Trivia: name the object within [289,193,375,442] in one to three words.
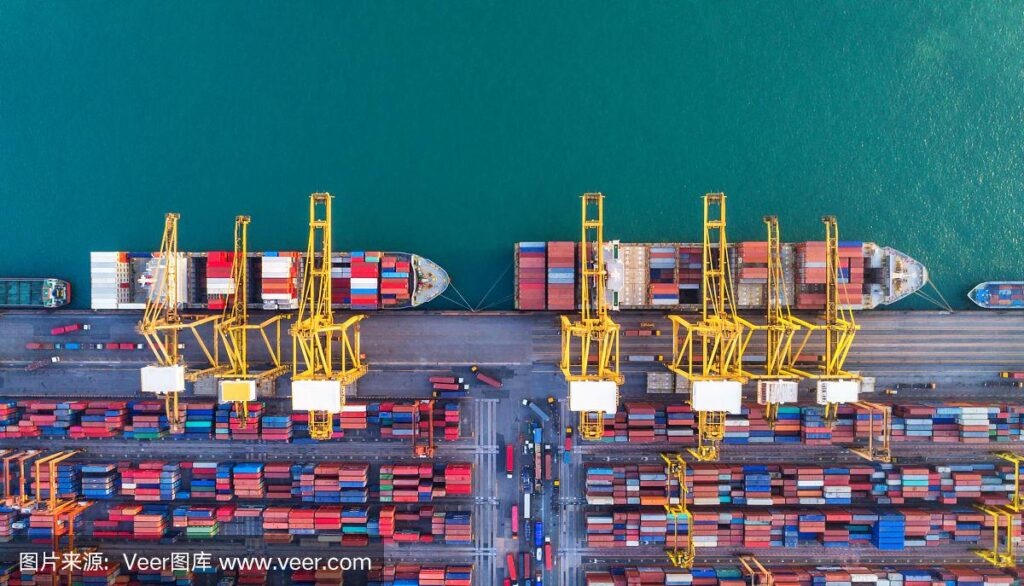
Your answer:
container crane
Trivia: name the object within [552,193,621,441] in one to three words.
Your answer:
container crane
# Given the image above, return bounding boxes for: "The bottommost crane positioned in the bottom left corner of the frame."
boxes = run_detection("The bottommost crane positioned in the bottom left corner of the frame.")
[53,501,98,570]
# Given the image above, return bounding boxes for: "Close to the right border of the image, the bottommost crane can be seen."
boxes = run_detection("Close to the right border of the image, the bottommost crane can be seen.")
[965,500,1014,570]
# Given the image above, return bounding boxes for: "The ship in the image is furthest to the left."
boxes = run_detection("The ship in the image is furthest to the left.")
[0,277,74,308]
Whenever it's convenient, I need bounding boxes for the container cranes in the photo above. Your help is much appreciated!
[289,193,375,442]
[140,212,234,429]
[986,451,1024,516]
[849,399,890,462]
[663,503,692,569]
[965,500,1014,570]
[659,193,745,441]
[689,400,720,462]
[657,451,686,517]
[725,214,802,428]
[552,193,621,441]
[53,501,98,570]
[213,214,296,422]
[414,399,439,463]
[35,452,81,518]
[779,214,862,428]
[4,452,51,518]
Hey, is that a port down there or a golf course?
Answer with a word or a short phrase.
port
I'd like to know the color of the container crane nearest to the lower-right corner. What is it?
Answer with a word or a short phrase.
yellow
